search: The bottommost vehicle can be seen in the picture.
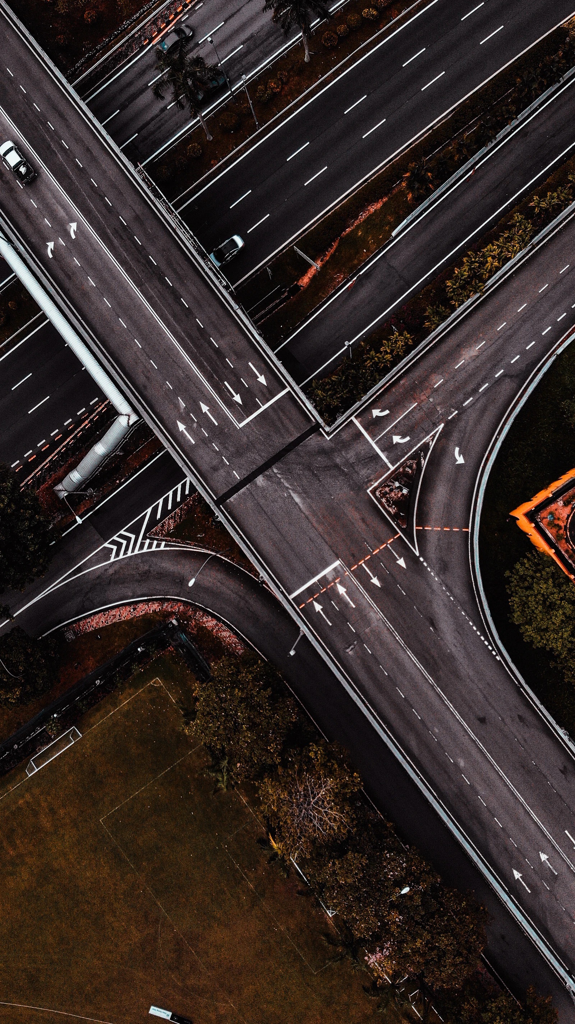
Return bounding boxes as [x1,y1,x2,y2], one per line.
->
[210,235,244,266]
